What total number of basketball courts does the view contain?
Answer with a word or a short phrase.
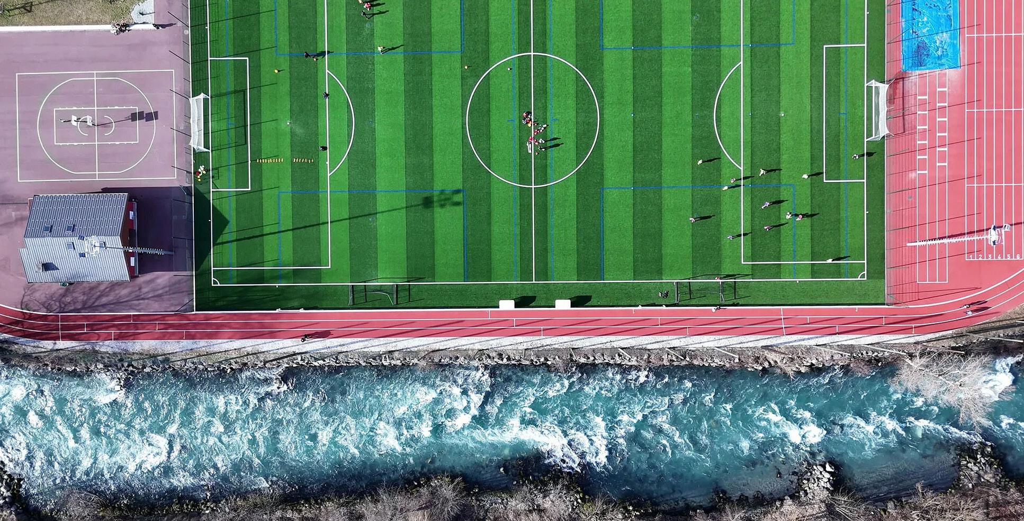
1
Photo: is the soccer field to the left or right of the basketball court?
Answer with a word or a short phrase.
on the right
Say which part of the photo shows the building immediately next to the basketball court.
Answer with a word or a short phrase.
left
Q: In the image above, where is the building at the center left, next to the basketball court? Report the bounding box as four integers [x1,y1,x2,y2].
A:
[19,192,141,282]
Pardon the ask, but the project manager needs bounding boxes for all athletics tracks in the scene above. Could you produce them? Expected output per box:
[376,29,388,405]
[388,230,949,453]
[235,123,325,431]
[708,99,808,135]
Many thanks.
[0,0,1024,341]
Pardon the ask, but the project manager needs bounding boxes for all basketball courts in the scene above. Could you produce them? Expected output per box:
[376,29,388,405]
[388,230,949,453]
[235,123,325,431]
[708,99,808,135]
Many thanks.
[16,70,176,182]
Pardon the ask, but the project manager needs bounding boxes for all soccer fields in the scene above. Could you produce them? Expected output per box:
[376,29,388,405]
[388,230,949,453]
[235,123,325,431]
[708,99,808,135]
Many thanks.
[189,0,886,310]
